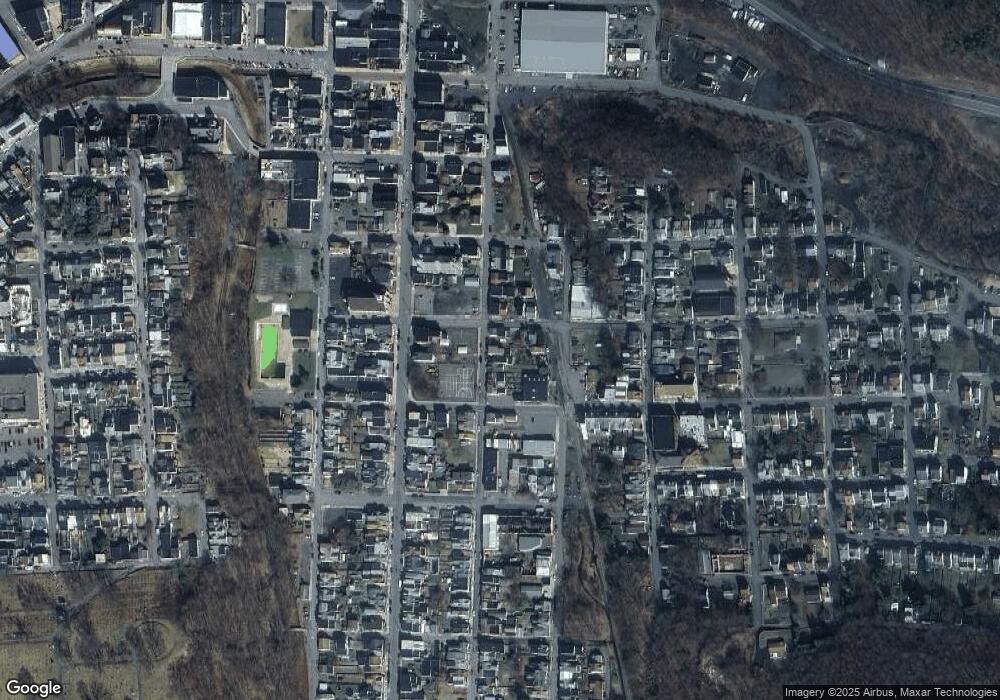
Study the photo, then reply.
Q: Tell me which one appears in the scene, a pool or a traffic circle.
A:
pool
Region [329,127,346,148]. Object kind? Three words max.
house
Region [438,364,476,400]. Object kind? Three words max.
sports court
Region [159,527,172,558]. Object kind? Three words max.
house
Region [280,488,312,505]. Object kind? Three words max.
building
